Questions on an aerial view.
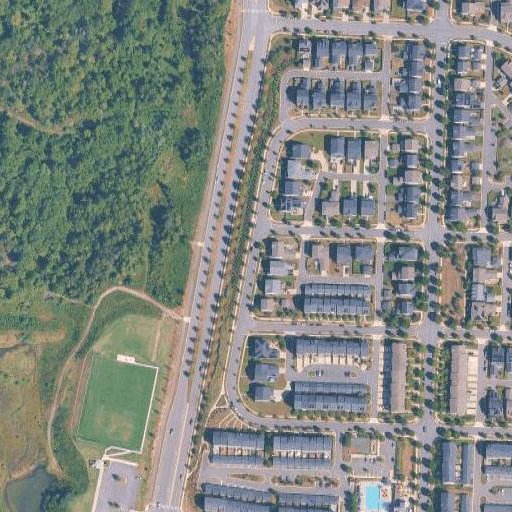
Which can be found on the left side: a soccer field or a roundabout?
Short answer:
soccer field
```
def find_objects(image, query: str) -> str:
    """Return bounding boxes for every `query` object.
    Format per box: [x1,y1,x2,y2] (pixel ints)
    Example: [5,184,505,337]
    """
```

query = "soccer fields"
[76,353,159,453]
